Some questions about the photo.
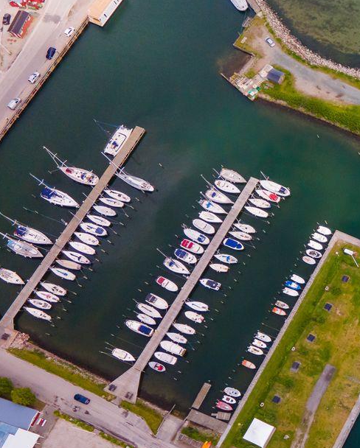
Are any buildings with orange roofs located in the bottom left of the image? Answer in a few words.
No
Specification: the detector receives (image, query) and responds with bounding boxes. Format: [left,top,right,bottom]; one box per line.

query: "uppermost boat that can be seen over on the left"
[99,117,133,156]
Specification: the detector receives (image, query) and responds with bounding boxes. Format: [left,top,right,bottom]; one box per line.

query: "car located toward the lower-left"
[74,393,92,405]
